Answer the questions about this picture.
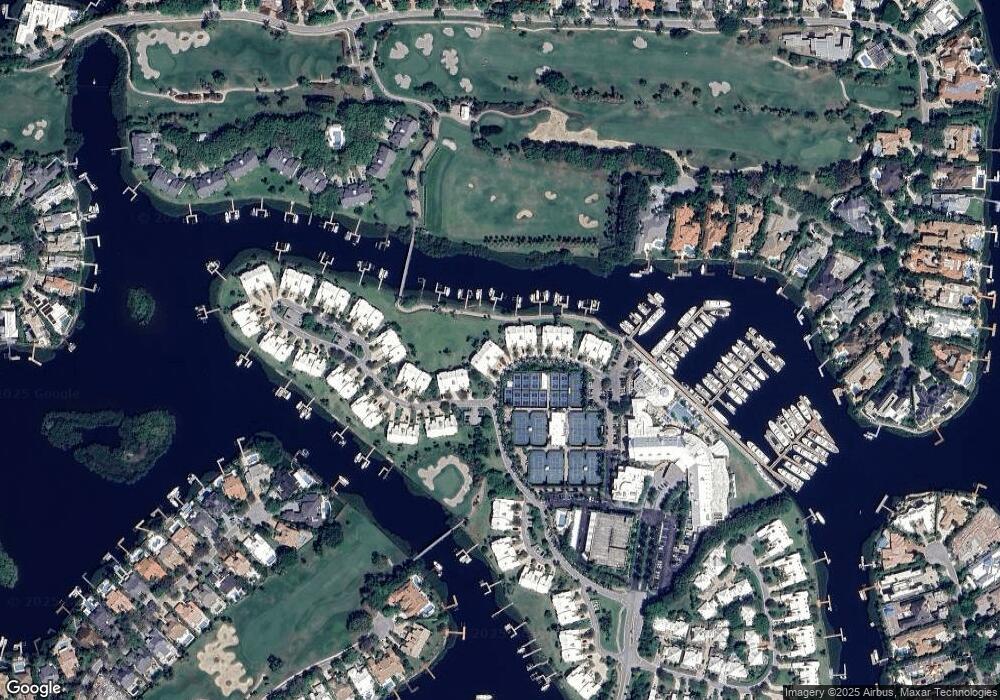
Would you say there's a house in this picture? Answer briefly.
Yes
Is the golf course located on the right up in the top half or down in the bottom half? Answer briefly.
top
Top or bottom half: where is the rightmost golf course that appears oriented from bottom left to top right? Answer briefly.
bottom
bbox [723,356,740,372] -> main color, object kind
white boat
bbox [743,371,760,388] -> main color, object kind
white boat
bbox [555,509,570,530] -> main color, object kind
white swimming pool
